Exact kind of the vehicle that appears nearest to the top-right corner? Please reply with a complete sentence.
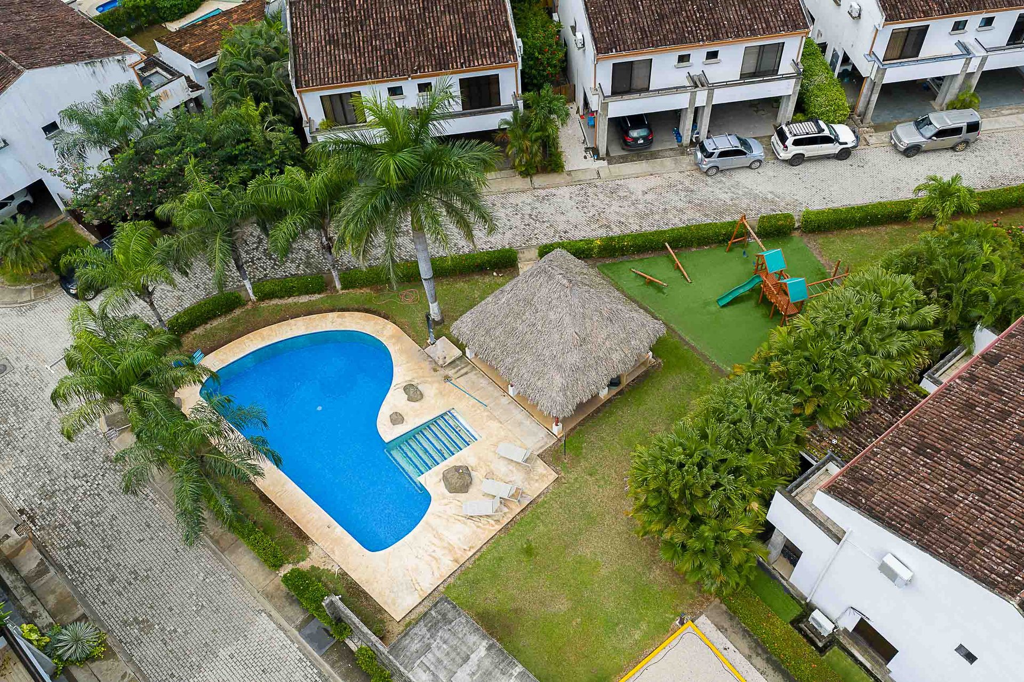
The vehicle that appears nearest to the top-right corner can be classified as a car.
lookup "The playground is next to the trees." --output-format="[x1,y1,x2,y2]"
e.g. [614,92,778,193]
[719,212,857,336]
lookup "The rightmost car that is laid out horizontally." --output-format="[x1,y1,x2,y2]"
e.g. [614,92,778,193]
[885,104,984,157]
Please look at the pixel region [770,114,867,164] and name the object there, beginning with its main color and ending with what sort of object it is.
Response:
white car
